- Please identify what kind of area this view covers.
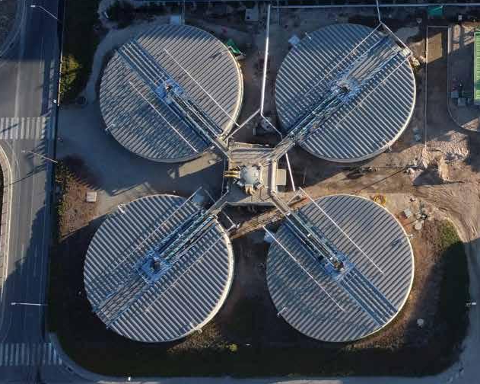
industrial area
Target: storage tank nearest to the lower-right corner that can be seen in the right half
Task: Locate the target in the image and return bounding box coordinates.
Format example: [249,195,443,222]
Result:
[265,191,415,345]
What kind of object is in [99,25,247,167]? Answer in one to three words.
storage tank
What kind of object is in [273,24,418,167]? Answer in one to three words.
storage tank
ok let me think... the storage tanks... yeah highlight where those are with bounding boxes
[99,25,247,167]
[83,190,237,345]
[265,191,415,345]
[273,24,418,167]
